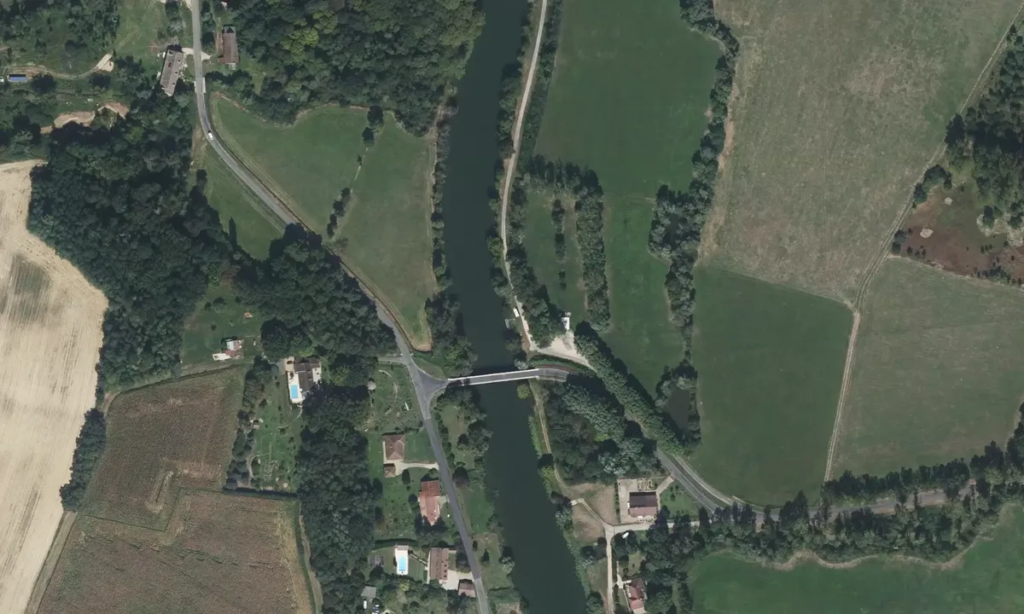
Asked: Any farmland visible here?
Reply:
Yes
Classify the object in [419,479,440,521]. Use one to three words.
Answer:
house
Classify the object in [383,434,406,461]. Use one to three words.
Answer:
house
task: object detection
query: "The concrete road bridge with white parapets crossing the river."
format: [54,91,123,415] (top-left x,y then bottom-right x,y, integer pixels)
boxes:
[446,369,541,387]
